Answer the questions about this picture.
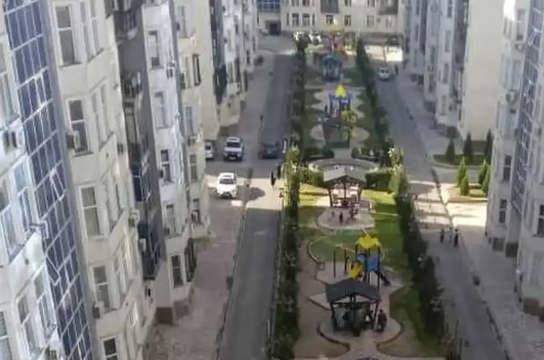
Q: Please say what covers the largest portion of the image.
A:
buildings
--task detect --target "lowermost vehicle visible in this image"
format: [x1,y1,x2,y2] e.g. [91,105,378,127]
[214,168,238,196]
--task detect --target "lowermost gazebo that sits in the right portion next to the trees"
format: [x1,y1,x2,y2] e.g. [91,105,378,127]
[325,272,384,333]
